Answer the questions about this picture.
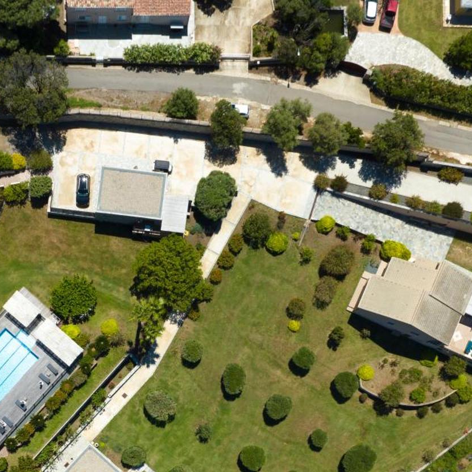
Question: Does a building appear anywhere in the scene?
Yes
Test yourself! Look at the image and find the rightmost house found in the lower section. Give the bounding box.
[337,257,472,349]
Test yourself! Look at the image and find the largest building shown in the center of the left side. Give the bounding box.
[47,167,168,227]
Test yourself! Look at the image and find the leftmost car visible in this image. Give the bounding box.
[74,174,91,209]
